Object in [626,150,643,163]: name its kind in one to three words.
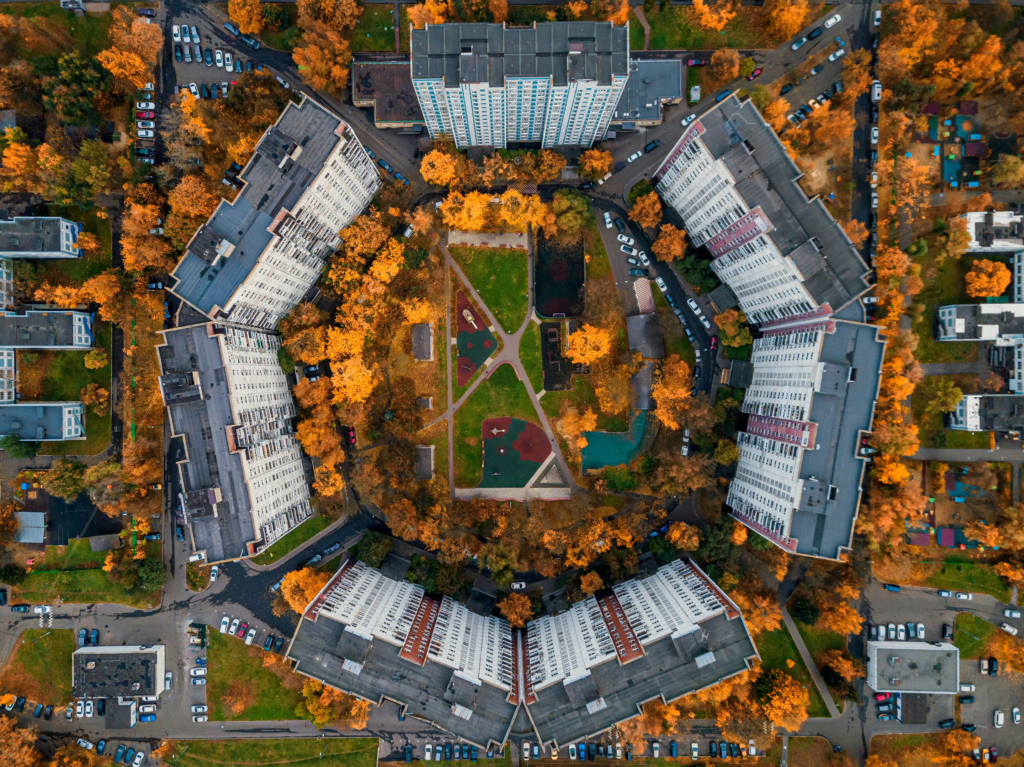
vehicle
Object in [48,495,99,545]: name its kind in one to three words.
sports court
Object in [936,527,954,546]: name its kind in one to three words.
building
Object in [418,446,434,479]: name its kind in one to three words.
shed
